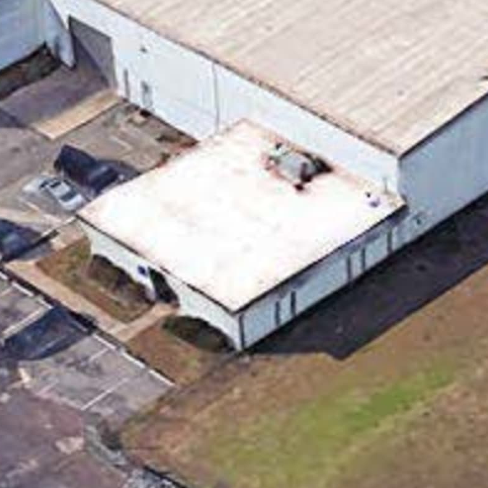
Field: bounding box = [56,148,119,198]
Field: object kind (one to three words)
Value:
van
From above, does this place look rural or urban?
urban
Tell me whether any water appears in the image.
No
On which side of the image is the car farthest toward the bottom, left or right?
left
